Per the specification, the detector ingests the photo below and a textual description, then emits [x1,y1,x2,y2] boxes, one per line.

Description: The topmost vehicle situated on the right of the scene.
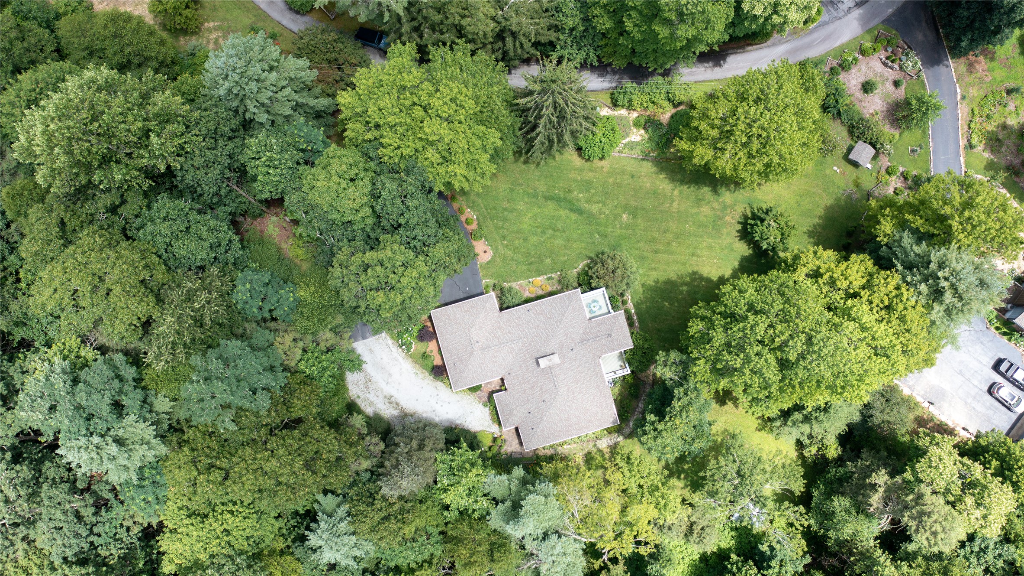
[998,354,1024,391]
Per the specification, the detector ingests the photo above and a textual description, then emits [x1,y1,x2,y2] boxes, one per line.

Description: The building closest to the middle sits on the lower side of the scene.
[430,287,635,452]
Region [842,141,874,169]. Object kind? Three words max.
shed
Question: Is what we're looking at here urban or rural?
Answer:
rural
